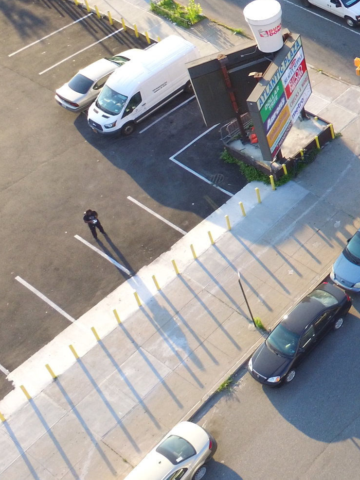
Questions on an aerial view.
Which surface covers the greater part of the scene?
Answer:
paved ground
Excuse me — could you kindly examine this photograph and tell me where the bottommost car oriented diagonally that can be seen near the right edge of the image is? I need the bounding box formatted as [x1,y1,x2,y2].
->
[240,282,349,393]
